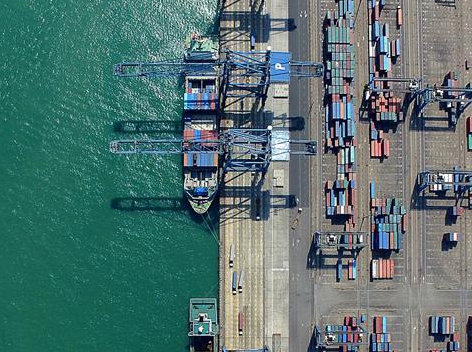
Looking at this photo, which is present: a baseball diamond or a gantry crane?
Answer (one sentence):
It is a gantry crane that can be seen here.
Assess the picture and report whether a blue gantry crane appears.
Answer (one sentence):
Yes, you can see a blue gantry crane in this photo.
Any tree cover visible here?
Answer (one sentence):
No, there's no tree cover in this view.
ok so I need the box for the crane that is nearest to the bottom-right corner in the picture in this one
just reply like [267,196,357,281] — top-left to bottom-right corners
[312,320,366,343]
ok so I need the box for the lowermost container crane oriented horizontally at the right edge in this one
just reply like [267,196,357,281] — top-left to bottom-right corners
[416,170,472,191]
